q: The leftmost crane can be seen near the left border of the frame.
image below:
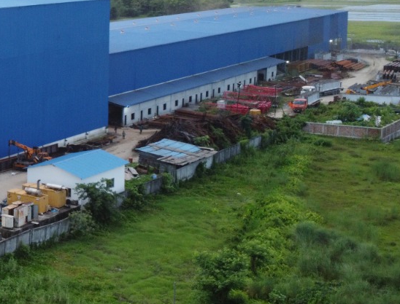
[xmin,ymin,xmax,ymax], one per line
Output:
[9,140,52,166]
